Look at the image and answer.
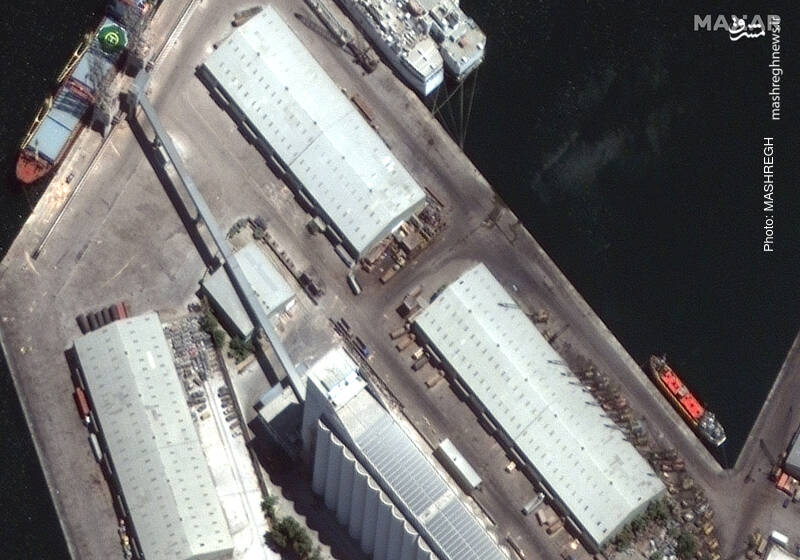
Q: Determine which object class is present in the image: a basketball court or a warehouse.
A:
warehouse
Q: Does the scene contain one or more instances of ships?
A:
Yes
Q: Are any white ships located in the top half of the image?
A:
Yes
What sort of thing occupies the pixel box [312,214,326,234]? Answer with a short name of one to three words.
vehicle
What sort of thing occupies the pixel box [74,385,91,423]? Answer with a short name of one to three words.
vehicle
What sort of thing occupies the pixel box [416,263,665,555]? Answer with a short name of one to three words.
warehouse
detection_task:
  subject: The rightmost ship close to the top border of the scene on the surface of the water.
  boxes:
[420,0,487,77]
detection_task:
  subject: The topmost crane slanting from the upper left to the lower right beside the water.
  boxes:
[306,0,384,73]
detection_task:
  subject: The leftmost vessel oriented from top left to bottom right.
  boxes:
[340,0,443,95]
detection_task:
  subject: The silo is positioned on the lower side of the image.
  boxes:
[307,345,509,560]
